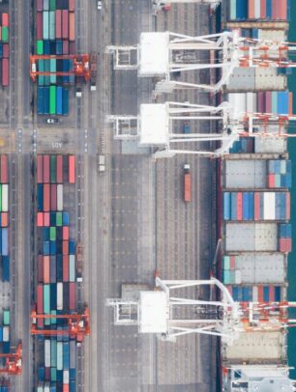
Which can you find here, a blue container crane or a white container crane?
white container crane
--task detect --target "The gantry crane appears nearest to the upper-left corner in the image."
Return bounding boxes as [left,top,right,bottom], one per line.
[29,53,92,88]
